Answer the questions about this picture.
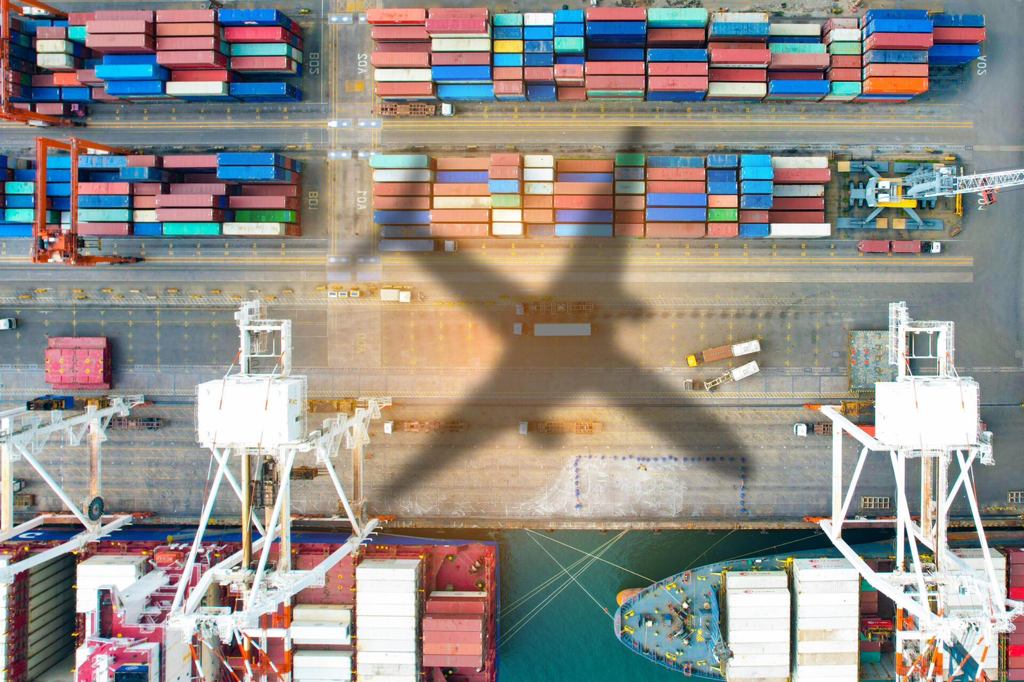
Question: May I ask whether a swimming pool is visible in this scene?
No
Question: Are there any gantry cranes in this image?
Yes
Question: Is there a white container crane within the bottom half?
Yes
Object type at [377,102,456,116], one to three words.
vehicle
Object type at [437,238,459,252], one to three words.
vehicle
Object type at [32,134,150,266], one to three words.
container crane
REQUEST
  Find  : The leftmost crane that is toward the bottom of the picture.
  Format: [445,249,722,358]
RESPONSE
[0,310,156,606]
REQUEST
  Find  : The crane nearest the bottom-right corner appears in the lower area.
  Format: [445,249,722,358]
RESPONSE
[801,294,1014,682]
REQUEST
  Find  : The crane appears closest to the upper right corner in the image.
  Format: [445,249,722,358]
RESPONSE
[836,160,1024,229]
